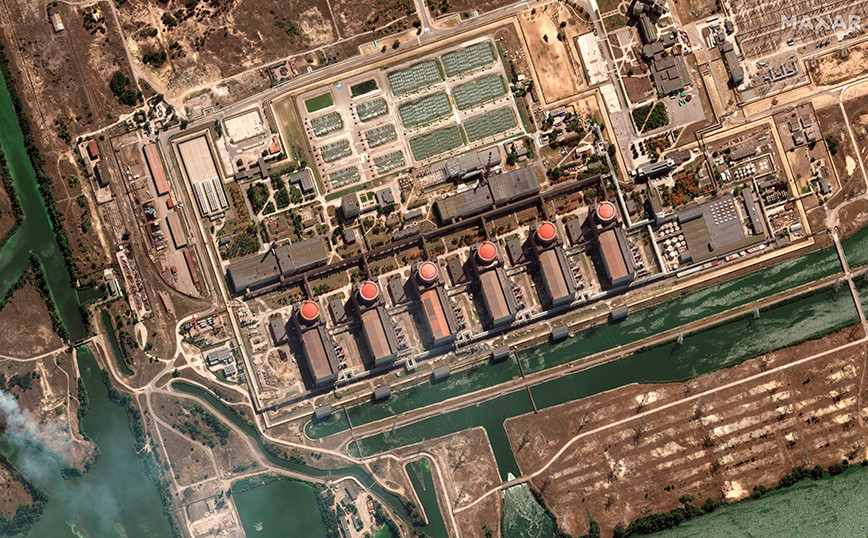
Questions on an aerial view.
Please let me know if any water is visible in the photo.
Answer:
Yes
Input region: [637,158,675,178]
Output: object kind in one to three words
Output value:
building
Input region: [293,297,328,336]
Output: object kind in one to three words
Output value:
building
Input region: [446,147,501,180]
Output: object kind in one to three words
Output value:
house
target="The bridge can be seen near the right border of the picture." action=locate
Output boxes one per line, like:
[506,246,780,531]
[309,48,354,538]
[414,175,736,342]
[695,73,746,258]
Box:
[833,231,868,337]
